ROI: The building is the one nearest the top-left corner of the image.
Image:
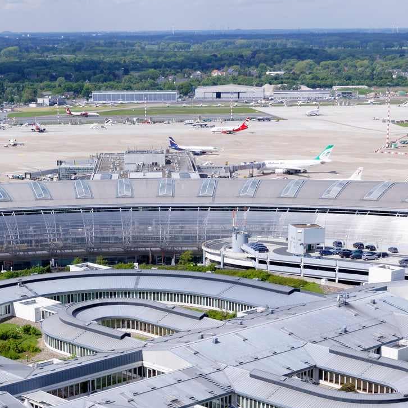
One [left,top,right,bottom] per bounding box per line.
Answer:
[37,98,65,115]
